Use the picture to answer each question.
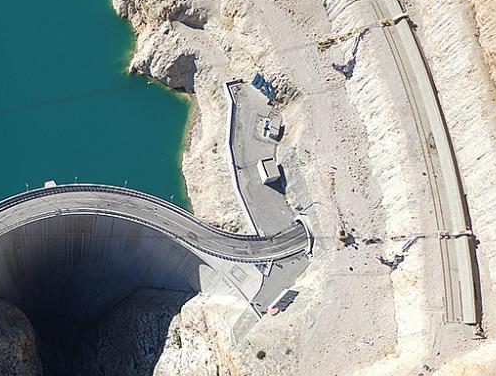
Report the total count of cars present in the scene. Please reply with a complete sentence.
The photo contains no cars.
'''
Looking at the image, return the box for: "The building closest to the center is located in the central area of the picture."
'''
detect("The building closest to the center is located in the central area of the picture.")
[258,155,282,183]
